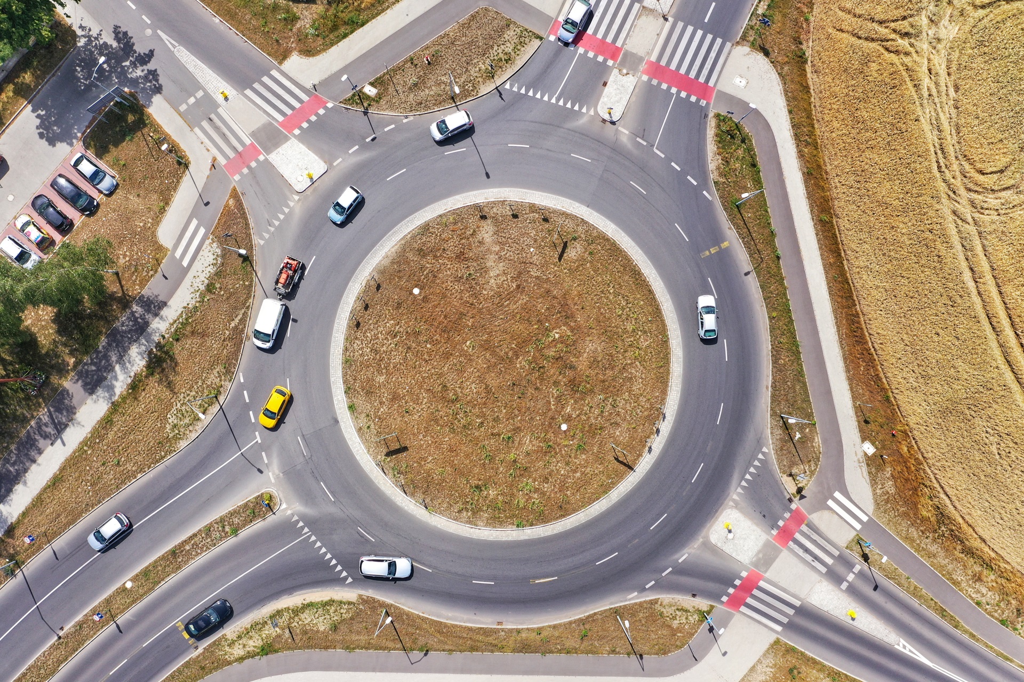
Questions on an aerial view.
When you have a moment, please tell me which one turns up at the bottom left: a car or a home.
car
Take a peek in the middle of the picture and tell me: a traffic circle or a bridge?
traffic circle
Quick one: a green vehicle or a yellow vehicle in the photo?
yellow vehicle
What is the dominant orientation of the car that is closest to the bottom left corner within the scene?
on a diagonal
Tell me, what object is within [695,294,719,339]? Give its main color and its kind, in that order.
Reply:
white car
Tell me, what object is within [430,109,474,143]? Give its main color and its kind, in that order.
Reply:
white car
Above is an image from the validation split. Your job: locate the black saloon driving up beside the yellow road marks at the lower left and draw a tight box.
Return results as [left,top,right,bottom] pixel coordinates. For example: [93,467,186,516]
[183,596,234,640]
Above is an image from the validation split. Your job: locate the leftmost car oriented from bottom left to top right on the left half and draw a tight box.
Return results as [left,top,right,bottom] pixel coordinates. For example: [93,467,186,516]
[88,511,132,551]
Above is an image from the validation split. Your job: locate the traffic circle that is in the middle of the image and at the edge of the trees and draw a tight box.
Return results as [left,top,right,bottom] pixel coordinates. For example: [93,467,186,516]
[230,91,771,628]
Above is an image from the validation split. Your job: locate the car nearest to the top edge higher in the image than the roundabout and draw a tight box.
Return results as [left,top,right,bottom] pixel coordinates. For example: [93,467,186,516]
[557,0,590,45]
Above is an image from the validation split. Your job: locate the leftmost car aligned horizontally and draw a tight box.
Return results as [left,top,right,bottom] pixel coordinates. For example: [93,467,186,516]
[359,555,412,581]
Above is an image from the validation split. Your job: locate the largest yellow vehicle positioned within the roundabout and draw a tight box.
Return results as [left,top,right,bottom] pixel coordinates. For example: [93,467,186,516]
[259,384,292,430]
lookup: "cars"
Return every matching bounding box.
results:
[14,214,55,251]
[695,294,719,339]
[0,235,44,276]
[31,193,75,234]
[359,555,412,581]
[557,0,590,45]
[430,109,474,143]
[88,511,132,551]
[183,596,234,640]
[69,152,119,195]
[46,172,100,215]
[328,184,364,224]
[259,384,292,430]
